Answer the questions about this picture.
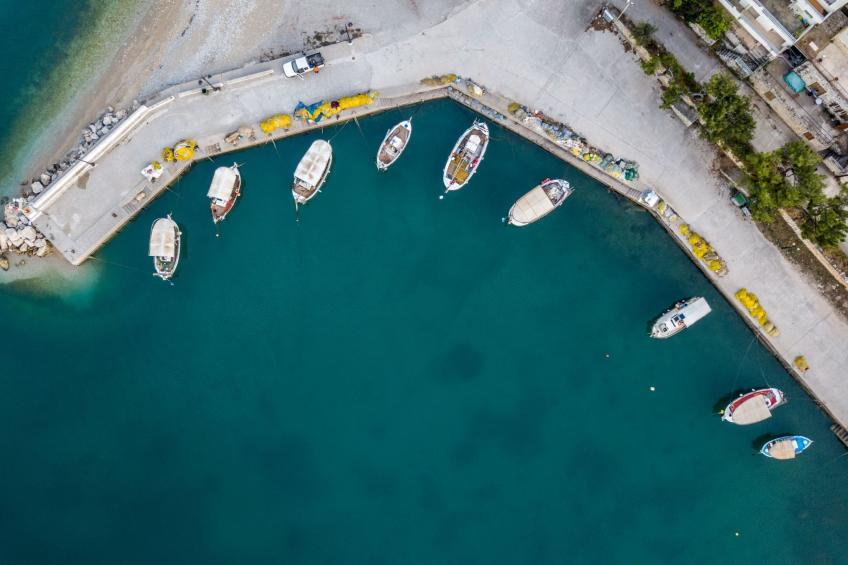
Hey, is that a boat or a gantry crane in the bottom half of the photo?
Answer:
boat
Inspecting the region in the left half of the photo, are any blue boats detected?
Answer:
No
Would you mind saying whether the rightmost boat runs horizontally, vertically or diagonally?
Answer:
horizontally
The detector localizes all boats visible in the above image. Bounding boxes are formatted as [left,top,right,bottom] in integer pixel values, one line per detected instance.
[648,295,711,340]
[758,435,816,459]
[502,184,575,225]
[443,118,487,191]
[719,388,786,425]
[378,116,412,171]
[293,138,332,213]
[150,211,184,280]
[207,162,245,227]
